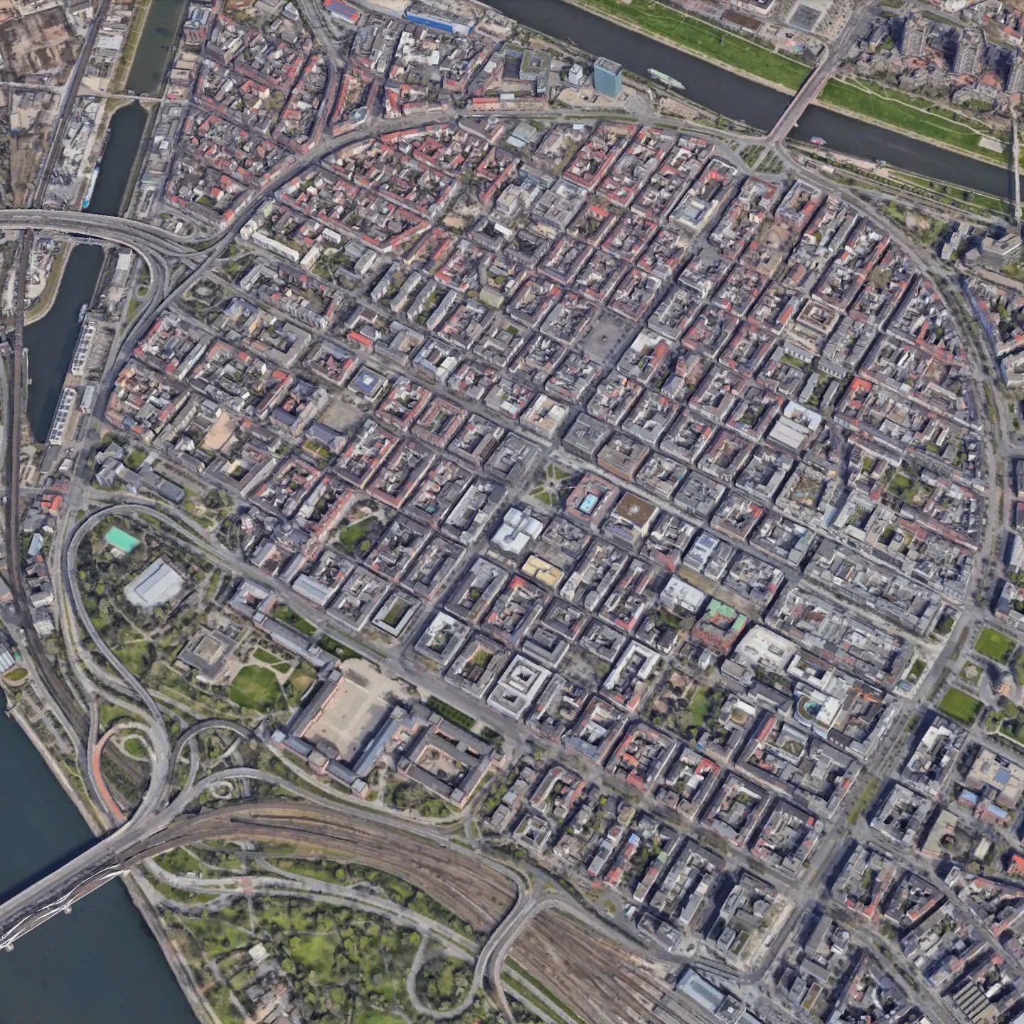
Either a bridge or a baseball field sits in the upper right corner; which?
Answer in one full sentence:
The feature located in the upper right corner is a bridge.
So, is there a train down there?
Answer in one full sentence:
Yes, I can see a train in this picture.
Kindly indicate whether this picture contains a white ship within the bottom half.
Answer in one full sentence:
No, there's no white ship to be seen within the bottom half.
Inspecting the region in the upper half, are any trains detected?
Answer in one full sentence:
No, there is no train in the upper half.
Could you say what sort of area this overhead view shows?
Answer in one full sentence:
This looks like a residential area.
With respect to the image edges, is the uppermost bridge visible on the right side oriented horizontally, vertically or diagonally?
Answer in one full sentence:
From this overhead view, the uppermost bridge visible on the right side appears to run diagonally.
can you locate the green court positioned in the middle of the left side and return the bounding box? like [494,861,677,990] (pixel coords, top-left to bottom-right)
[103,526,142,552]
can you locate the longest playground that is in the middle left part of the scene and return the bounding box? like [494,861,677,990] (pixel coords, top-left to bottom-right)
[203,416,237,449]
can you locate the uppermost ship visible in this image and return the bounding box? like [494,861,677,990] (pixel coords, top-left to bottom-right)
[646,67,686,89]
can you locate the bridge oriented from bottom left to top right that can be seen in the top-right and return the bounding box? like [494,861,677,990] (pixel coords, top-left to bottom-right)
[764,55,845,149]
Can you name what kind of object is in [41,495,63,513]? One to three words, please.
house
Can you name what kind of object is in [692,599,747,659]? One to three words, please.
building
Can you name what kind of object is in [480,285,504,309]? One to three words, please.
building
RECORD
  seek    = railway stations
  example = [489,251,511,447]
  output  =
[677,968,726,1014]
